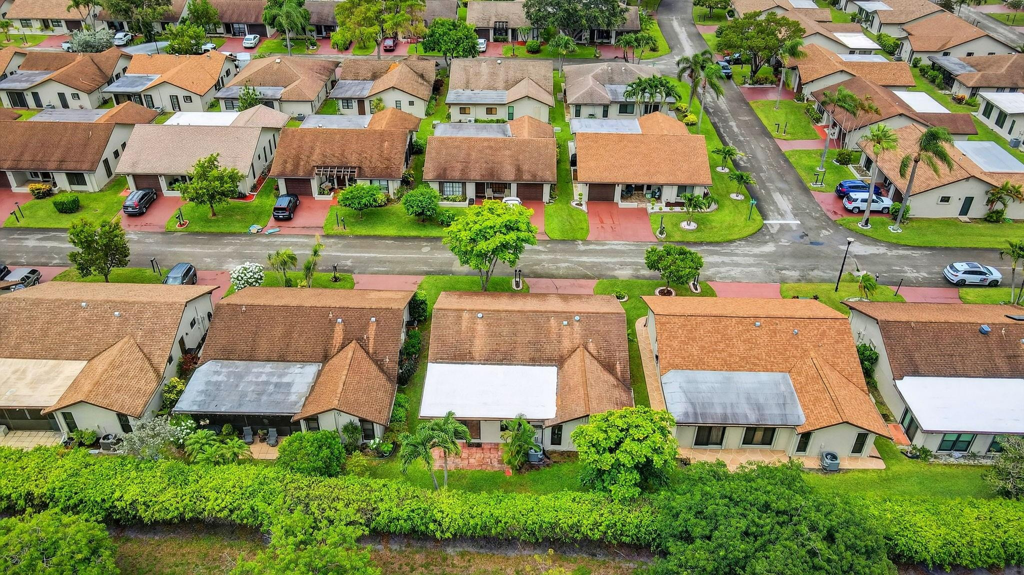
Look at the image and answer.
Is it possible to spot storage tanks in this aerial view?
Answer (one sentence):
No, this view has no storage tank in it.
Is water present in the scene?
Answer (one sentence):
No, the picture contains no water.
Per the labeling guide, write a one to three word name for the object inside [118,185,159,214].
car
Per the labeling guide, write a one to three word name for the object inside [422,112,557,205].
house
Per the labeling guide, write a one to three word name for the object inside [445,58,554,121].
house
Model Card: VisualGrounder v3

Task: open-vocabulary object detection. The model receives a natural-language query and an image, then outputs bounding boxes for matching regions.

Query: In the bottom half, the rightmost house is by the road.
[841,301,1024,459]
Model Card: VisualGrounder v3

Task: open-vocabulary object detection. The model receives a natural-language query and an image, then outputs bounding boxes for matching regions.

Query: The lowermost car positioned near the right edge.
[941,261,1009,291]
